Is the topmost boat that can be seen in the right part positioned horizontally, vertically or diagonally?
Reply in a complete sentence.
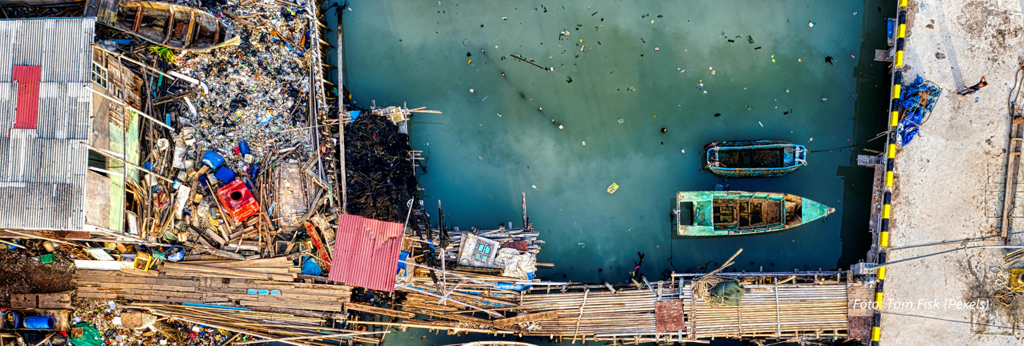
In this picture, the topmost boat that can be seen in the right part is oriented horizontally.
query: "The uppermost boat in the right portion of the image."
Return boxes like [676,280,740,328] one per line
[704,138,807,179]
